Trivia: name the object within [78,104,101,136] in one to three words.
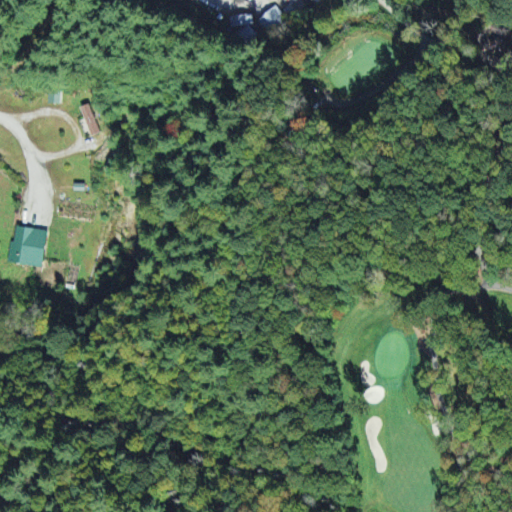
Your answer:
house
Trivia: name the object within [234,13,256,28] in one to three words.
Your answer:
house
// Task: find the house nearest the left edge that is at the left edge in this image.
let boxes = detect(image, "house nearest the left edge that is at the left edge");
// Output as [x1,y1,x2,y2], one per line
[8,226,47,267]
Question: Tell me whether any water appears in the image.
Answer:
No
